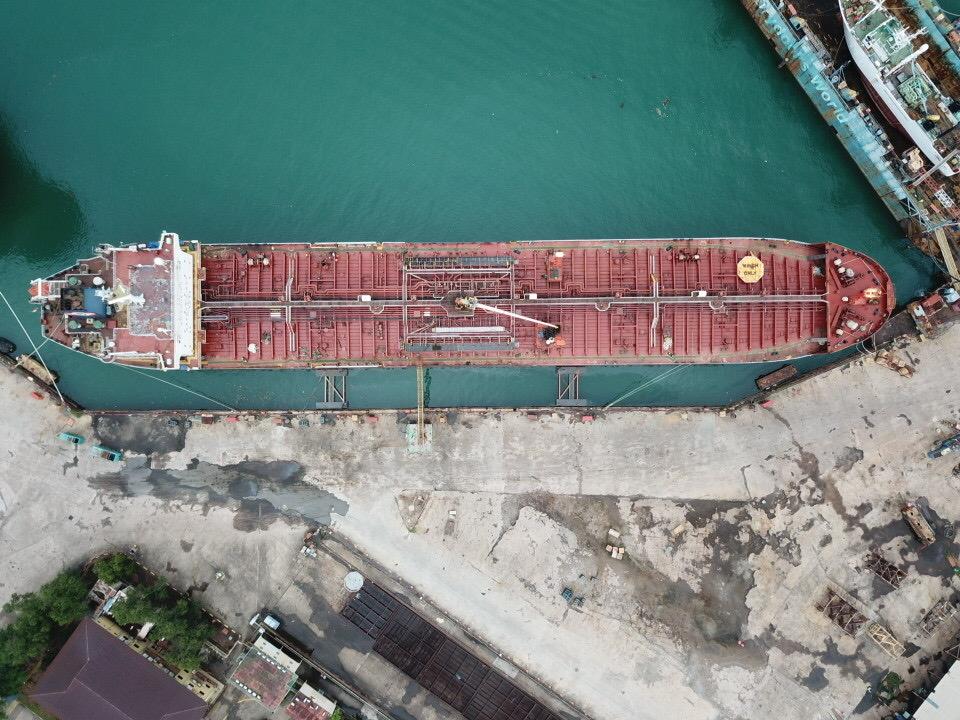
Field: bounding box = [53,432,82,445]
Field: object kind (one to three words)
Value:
vehicle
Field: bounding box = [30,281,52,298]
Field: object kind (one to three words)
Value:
boat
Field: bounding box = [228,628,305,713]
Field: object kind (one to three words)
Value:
building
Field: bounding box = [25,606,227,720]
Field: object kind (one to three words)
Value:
building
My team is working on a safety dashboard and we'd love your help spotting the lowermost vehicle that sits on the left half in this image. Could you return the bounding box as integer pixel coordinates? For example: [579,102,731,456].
[260,614,280,632]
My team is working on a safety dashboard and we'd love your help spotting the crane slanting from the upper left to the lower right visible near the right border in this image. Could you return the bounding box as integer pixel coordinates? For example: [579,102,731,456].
[901,149,960,223]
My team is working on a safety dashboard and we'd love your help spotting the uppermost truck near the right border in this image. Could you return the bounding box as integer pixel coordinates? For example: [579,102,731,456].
[931,433,960,459]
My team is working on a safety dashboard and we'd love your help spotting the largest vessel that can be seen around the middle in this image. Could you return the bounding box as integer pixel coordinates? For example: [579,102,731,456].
[31,232,899,370]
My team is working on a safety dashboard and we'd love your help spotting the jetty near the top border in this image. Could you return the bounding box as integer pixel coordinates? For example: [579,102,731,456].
[737,0,960,272]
